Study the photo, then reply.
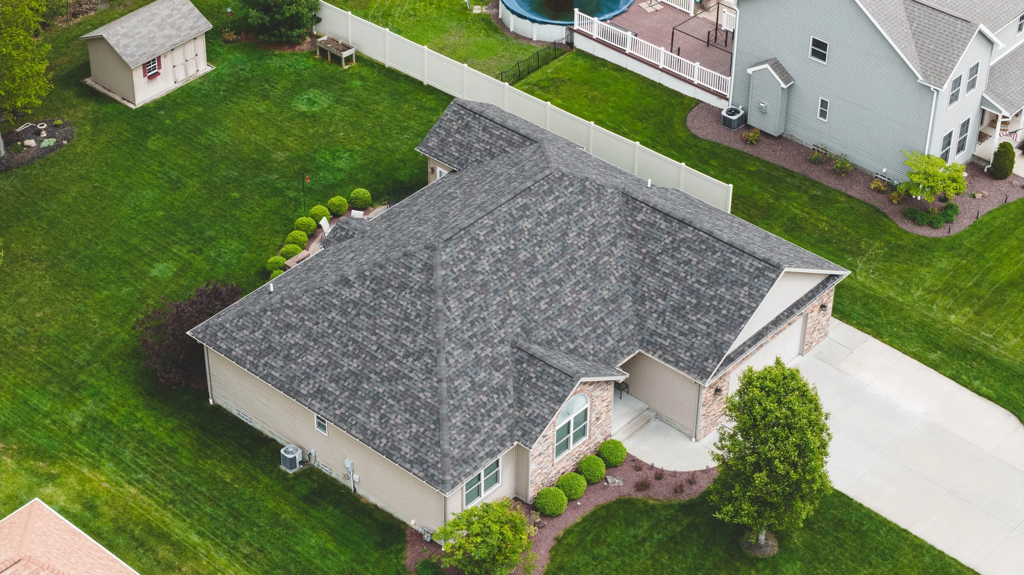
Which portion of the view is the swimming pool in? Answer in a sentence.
The swimming pool appears toward the top of the photo.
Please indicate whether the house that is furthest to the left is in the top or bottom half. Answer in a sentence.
The house that is furthest to the left is in the bottom half of the image.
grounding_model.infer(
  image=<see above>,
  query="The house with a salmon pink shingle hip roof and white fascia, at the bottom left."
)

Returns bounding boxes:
[0,497,142,575]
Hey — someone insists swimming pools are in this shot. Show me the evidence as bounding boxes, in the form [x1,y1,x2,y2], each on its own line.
[488,0,637,45]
